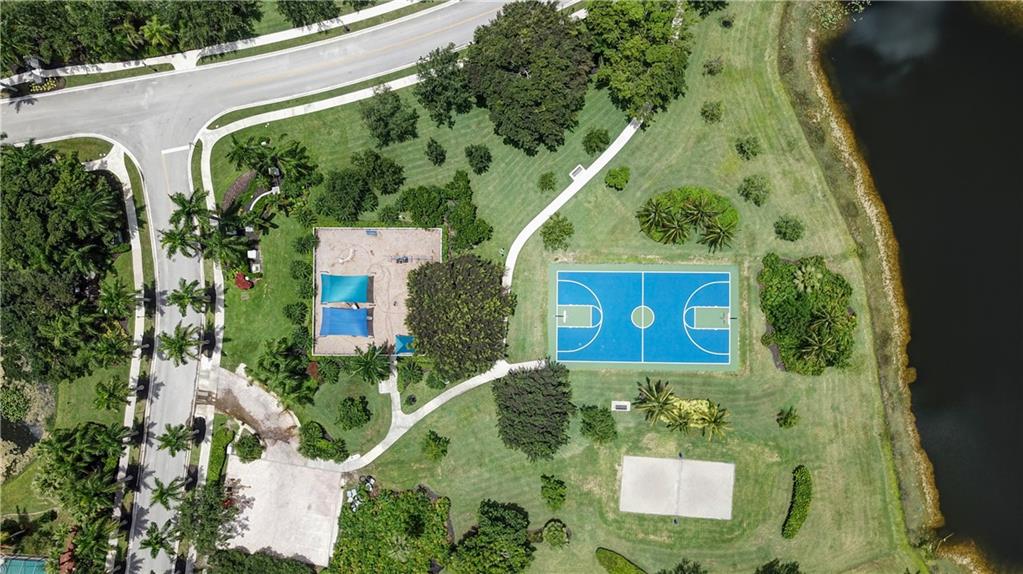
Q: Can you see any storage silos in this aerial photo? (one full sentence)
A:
No, no storage silo can be seen from above.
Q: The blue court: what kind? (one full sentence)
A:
The blue court can be classified as a basketball court.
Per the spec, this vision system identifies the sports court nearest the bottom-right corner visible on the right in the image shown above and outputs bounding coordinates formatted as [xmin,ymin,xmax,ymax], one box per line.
[619,454,735,526]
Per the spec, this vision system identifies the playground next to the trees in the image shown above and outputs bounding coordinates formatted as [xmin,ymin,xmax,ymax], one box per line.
[312,228,443,356]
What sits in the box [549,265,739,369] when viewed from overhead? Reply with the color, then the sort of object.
blue basketball court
